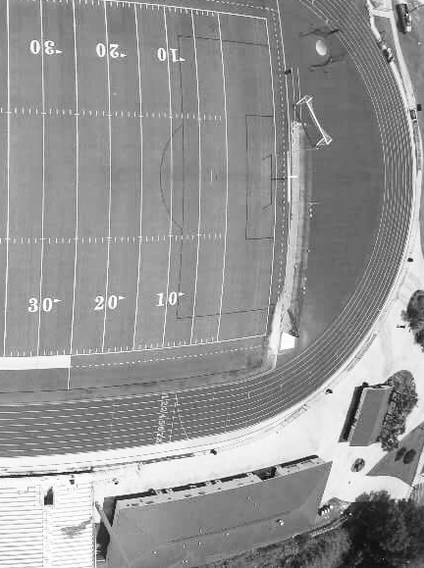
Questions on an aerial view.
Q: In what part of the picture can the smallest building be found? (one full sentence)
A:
Look in the bottom right portion of the view to spot the smallest building.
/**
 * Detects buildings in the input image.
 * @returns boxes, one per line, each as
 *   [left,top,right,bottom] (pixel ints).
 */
[332,383,393,448]
[102,454,333,568]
